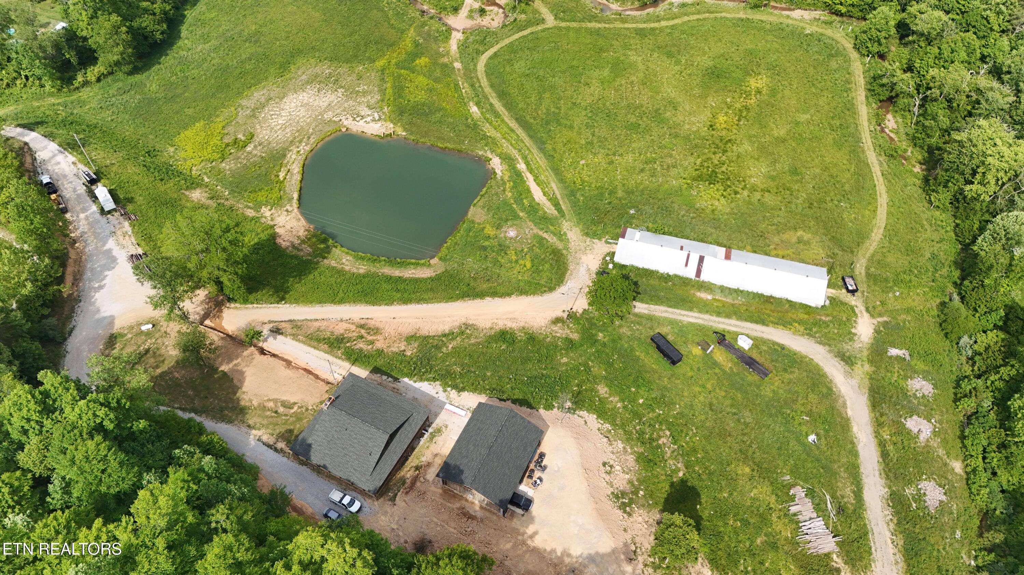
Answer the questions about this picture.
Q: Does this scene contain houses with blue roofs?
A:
No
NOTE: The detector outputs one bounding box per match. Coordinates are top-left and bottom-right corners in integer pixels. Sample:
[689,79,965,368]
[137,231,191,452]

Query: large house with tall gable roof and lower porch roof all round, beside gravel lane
[290,372,431,504]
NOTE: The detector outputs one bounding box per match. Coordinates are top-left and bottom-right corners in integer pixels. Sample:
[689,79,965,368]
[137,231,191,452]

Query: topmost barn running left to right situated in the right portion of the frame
[614,228,827,314]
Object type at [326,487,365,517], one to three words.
truck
